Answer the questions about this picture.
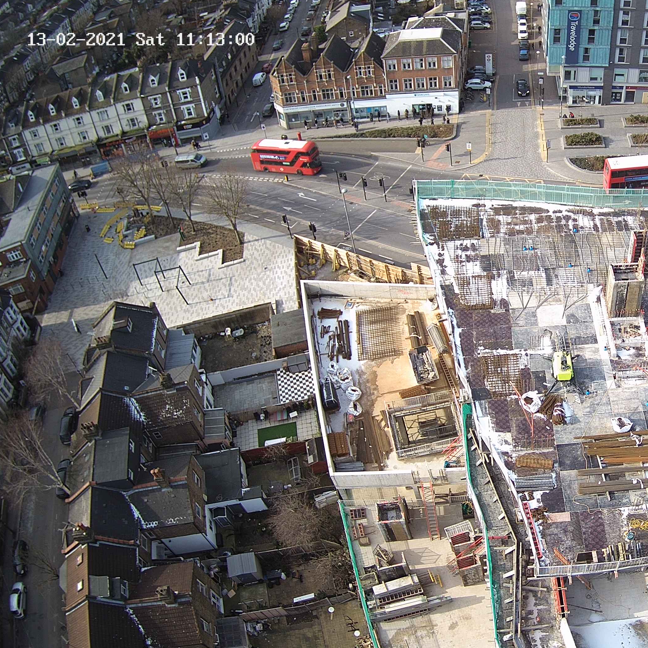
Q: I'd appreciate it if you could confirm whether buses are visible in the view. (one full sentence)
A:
Yes, there's a bus here.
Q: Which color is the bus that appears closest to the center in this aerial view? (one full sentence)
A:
In this view, the bus that appears closest to the center is red.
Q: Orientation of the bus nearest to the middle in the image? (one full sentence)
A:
The bus nearest to the middle has been laid out from side to side relative to the frame.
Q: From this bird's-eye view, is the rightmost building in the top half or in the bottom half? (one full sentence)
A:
The top half of the photo is where the rightmost building is.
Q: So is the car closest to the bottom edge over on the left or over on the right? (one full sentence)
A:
It is on the left.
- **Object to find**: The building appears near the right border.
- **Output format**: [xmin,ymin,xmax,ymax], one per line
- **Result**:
[529,0,648,107]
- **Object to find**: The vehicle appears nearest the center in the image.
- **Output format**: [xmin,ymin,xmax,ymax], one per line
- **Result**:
[251,140,323,174]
